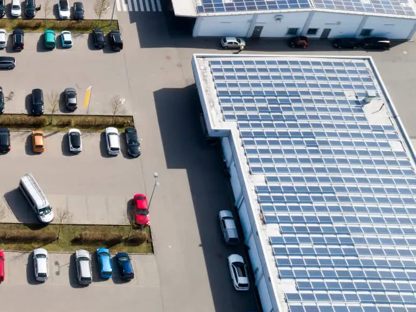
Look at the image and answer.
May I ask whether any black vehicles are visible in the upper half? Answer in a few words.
Yes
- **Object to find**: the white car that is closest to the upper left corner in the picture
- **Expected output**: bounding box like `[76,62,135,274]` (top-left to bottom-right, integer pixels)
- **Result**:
[9,0,23,18]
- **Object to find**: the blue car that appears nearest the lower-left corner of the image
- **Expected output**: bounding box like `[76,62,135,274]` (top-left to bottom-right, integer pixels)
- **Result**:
[94,249,114,281]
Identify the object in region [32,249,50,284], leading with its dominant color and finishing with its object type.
white car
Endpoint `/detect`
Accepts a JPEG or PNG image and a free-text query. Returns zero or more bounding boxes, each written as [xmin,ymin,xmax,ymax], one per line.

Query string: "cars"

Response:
[124,129,142,157]
[221,36,246,50]
[104,128,121,157]
[94,249,114,281]
[0,0,7,18]
[74,251,93,287]
[286,36,311,51]
[131,195,151,226]
[56,0,72,21]
[60,30,73,50]
[64,89,78,112]
[0,88,6,112]
[30,129,45,154]
[0,127,12,154]
[73,0,87,22]
[0,56,18,71]
[11,30,25,52]
[359,36,392,51]
[23,0,42,19]
[67,130,83,154]
[90,30,106,51]
[0,30,8,50]
[226,257,252,290]
[217,212,243,246]
[30,88,45,116]
[9,0,23,18]
[114,249,137,286]
[331,36,363,50]
[32,249,50,284]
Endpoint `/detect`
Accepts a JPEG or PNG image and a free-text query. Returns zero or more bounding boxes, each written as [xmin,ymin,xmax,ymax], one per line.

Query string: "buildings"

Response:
[171,0,416,40]
[189,55,416,312]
